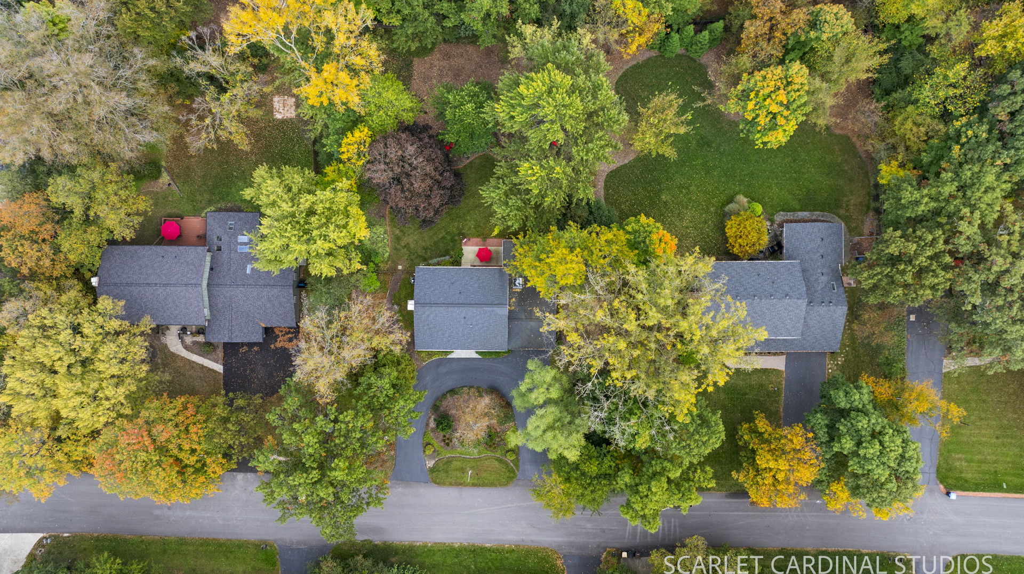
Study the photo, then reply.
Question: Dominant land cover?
trees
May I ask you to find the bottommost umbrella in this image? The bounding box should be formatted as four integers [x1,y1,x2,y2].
[476,247,492,262]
